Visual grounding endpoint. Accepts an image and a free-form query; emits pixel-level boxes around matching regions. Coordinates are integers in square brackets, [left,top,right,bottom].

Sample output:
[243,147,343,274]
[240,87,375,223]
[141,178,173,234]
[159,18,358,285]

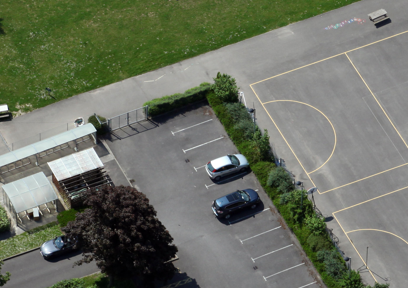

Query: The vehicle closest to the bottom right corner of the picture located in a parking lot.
[211,188,261,220]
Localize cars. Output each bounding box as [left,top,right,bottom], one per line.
[211,188,261,220]
[42,229,86,257]
[204,153,249,180]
